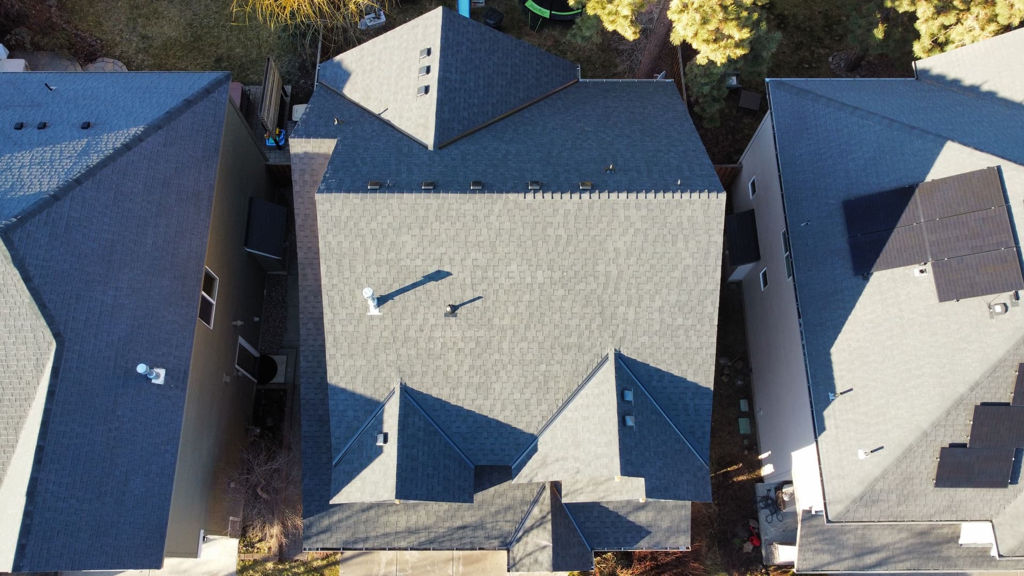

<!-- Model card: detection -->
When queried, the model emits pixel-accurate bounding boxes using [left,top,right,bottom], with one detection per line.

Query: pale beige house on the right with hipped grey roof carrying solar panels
[721,28,1024,576]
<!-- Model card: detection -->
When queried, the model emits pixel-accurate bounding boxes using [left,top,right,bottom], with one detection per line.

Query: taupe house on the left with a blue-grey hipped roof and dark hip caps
[0,71,295,573]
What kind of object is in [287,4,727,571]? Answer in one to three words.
house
